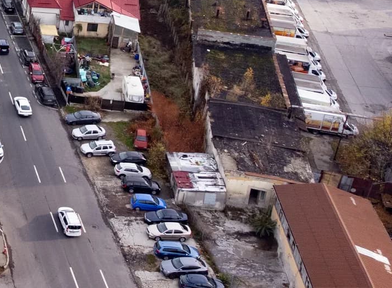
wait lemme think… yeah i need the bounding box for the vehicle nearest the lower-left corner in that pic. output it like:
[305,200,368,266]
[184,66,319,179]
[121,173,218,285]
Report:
[55,206,82,237]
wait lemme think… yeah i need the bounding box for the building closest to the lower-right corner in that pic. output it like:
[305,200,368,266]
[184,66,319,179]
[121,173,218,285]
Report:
[270,179,392,288]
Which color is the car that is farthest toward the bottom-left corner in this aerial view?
white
